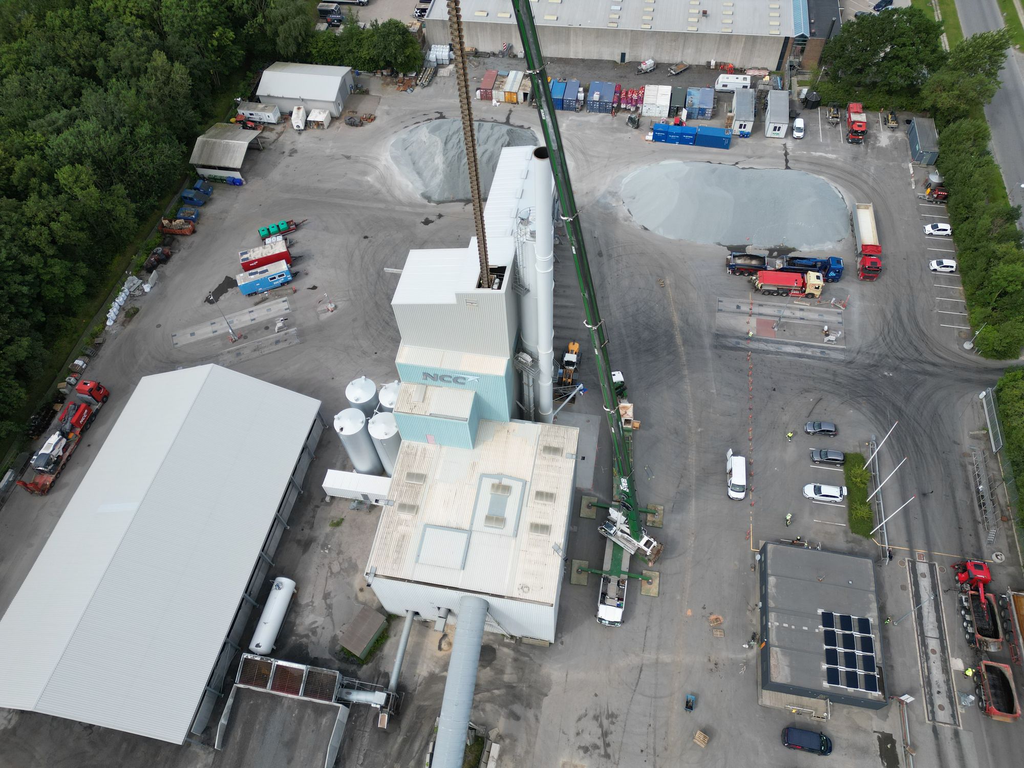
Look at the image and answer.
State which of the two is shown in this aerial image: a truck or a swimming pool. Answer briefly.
truck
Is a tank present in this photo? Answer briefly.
Yes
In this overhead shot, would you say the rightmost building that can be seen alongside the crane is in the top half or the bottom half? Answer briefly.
bottom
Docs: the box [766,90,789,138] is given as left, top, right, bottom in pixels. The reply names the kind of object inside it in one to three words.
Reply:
building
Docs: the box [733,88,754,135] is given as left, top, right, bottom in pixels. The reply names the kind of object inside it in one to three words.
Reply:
building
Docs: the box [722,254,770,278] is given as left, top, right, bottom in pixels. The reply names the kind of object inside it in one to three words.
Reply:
trailer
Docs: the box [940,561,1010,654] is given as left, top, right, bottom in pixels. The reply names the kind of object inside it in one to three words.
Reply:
truck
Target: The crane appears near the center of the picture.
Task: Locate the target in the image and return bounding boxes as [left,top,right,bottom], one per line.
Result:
[513,0,662,629]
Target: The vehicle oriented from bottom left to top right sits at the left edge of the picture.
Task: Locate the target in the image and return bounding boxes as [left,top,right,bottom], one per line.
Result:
[19,382,109,492]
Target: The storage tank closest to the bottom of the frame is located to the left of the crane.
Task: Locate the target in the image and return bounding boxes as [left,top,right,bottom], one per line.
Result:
[250,575,299,657]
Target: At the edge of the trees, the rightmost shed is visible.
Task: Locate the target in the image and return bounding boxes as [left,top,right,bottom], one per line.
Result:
[908,116,942,169]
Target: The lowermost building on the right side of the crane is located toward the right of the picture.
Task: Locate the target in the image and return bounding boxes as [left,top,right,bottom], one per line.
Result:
[754,542,890,735]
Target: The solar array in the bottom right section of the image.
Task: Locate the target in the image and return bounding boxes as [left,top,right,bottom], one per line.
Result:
[815,610,880,697]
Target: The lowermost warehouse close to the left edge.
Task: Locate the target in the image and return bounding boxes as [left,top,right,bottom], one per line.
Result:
[0,364,328,752]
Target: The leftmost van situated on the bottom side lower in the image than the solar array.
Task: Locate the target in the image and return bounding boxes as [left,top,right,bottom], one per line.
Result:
[782,726,831,756]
